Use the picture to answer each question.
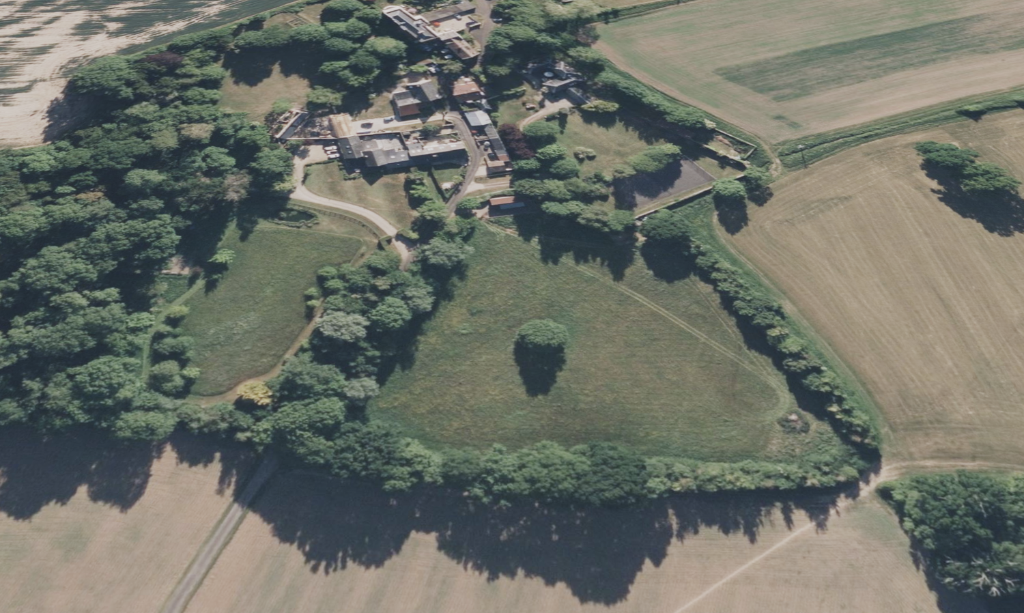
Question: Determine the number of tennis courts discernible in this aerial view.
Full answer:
The photo contains exactly 1 tennis court.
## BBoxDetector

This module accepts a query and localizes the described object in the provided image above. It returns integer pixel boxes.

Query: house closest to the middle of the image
[489,194,525,213]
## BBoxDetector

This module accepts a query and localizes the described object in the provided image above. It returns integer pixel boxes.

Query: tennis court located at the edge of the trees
[615,159,713,212]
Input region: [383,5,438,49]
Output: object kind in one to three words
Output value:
house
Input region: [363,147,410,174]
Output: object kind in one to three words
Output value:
barn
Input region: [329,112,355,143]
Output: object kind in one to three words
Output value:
barn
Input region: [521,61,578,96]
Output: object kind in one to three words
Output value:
house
